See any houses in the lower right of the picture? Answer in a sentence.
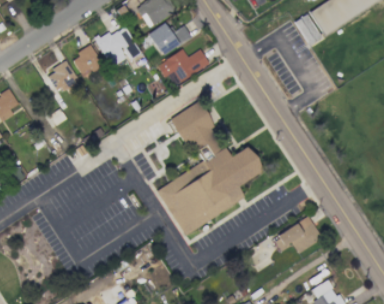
Yes, you'll find a house in the lower right of the picture.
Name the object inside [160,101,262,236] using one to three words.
building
